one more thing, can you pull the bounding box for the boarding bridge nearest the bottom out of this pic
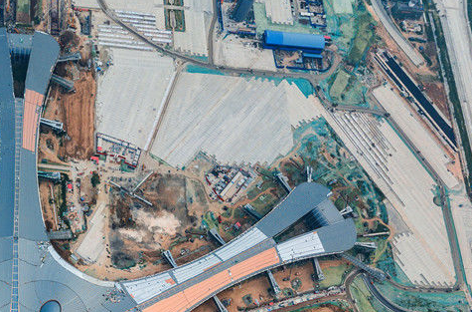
[213,291,230,312]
